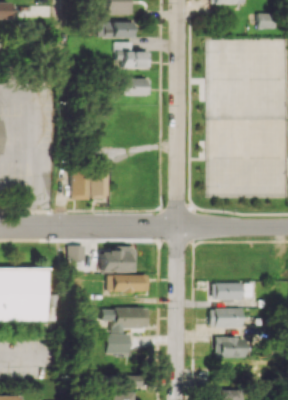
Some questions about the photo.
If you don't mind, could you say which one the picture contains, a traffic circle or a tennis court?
tennis court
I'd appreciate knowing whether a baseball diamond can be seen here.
No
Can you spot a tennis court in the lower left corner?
No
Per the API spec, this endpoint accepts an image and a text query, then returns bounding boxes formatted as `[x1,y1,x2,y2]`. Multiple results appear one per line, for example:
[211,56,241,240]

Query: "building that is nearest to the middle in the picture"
[90,172,108,200]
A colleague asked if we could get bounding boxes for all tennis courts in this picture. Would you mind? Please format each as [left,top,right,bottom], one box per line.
[205,40,244,118]
[244,118,284,196]
[244,40,284,118]
[205,118,244,196]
